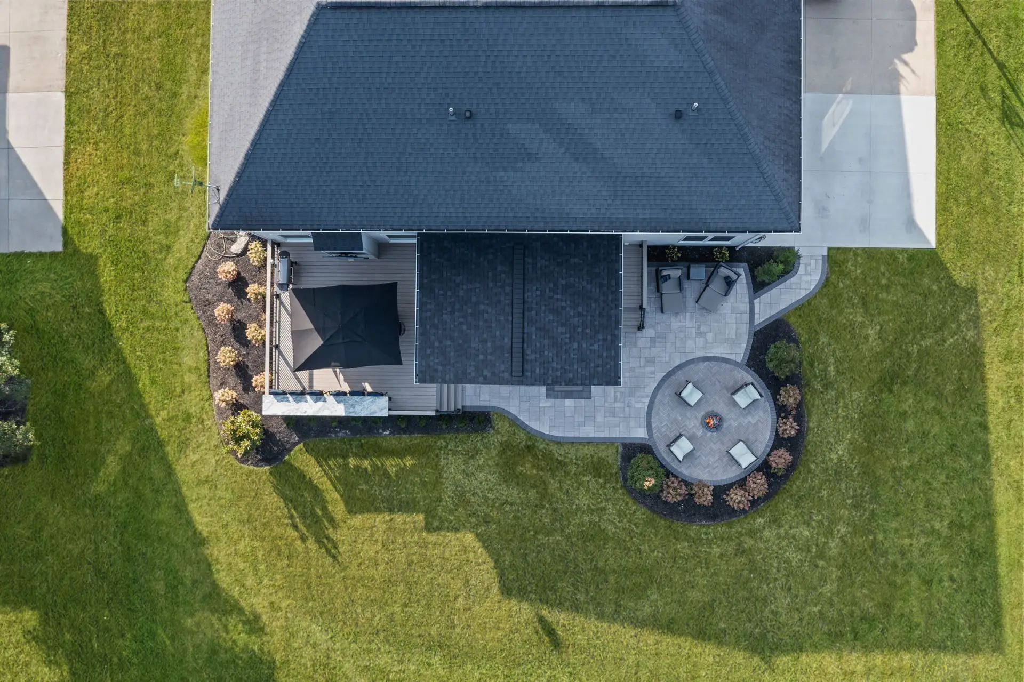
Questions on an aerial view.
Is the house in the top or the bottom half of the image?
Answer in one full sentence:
It is in the top half that the house appears.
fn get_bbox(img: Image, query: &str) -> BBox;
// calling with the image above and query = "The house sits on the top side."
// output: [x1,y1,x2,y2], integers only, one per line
[203,0,806,386]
